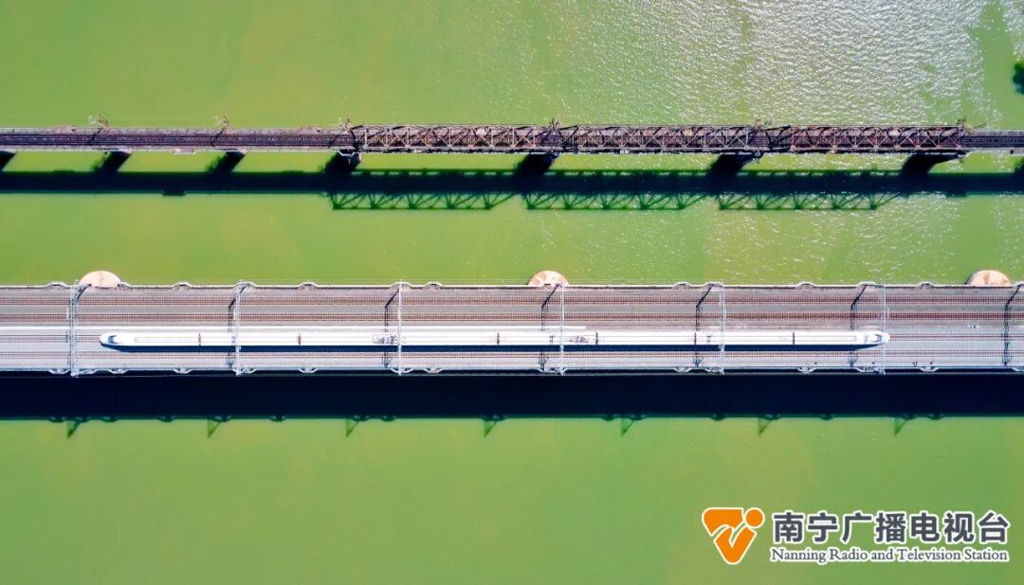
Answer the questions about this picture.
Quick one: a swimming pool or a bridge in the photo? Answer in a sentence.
Of the two, only a bridge appears.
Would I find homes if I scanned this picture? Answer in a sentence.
No, there is no home in the image.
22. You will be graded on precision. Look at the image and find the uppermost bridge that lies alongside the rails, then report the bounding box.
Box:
[0,123,1024,165]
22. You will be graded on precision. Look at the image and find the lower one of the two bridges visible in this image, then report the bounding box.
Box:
[0,270,1024,375]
